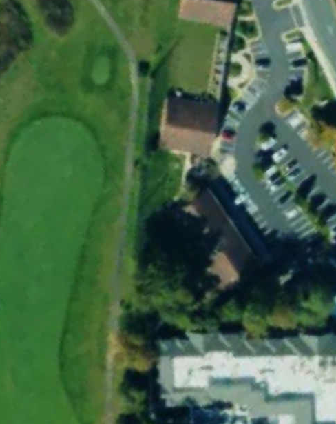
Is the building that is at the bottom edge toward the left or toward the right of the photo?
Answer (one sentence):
It is on the right.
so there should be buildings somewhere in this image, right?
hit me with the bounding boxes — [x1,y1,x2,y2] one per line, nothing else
[179,0,237,29]
[158,331,336,424]
[190,179,272,272]
[158,93,222,154]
